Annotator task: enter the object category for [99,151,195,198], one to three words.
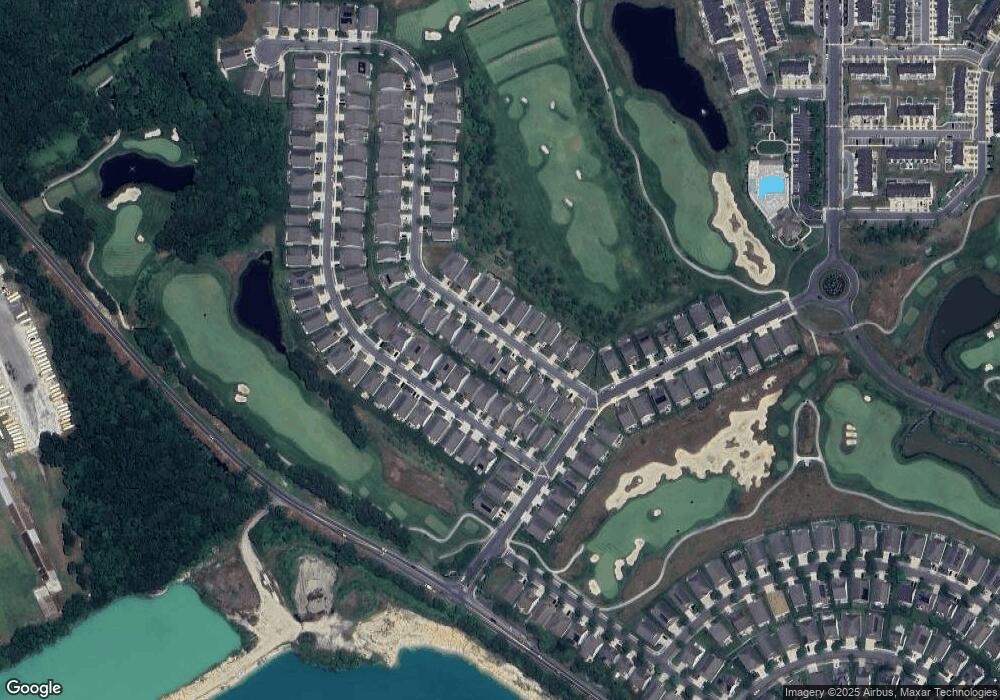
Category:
pond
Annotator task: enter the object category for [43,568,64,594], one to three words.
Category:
barn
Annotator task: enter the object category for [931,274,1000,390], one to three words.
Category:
pond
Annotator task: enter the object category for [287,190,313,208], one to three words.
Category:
house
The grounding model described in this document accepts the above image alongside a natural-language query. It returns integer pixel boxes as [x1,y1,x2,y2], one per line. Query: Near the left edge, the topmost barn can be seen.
[0,463,54,575]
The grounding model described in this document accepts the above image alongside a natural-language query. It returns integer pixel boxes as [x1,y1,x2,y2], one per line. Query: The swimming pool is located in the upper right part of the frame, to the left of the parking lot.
[748,160,789,218]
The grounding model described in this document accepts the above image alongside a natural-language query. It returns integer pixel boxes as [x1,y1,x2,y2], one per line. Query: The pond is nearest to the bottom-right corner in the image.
[902,413,1000,502]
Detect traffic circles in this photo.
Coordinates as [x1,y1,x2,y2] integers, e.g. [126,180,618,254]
[807,259,858,309]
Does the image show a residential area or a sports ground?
residential area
